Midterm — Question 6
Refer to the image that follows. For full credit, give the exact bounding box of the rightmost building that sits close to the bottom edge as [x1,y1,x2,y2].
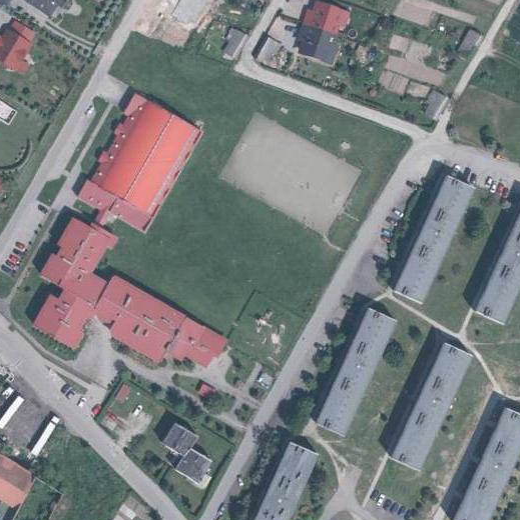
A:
[452,409,520,520]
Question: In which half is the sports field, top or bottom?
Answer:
top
